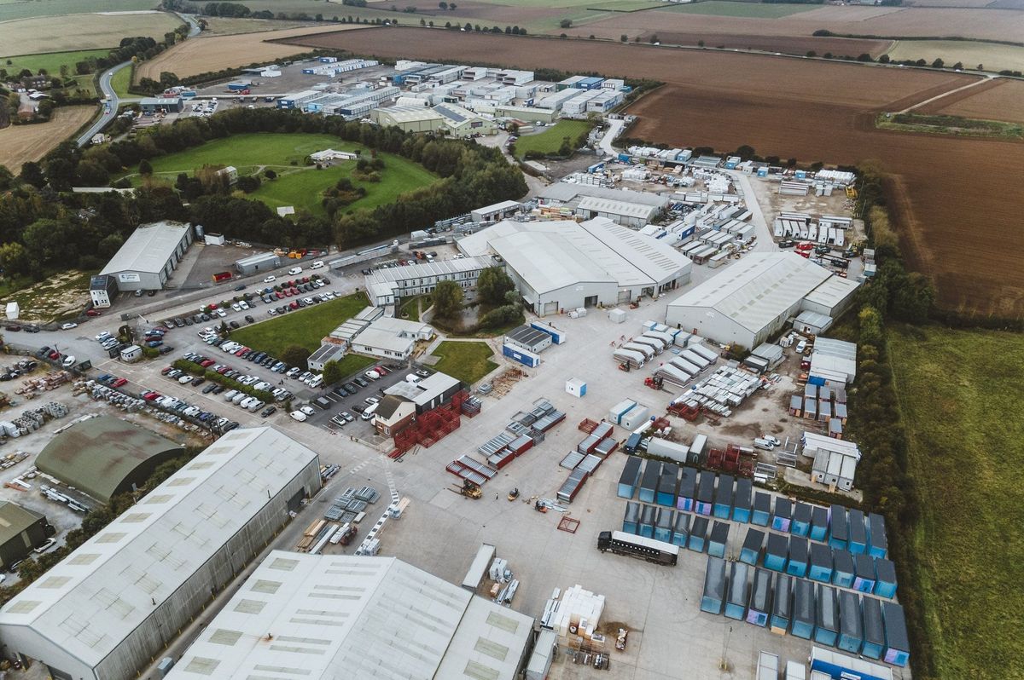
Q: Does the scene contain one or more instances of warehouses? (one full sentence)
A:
Yes, there is a warehouse in the image.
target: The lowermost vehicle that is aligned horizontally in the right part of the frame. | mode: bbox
[599,534,680,570]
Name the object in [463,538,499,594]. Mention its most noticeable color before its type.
white trailer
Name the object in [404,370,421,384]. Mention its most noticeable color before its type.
white vehicle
